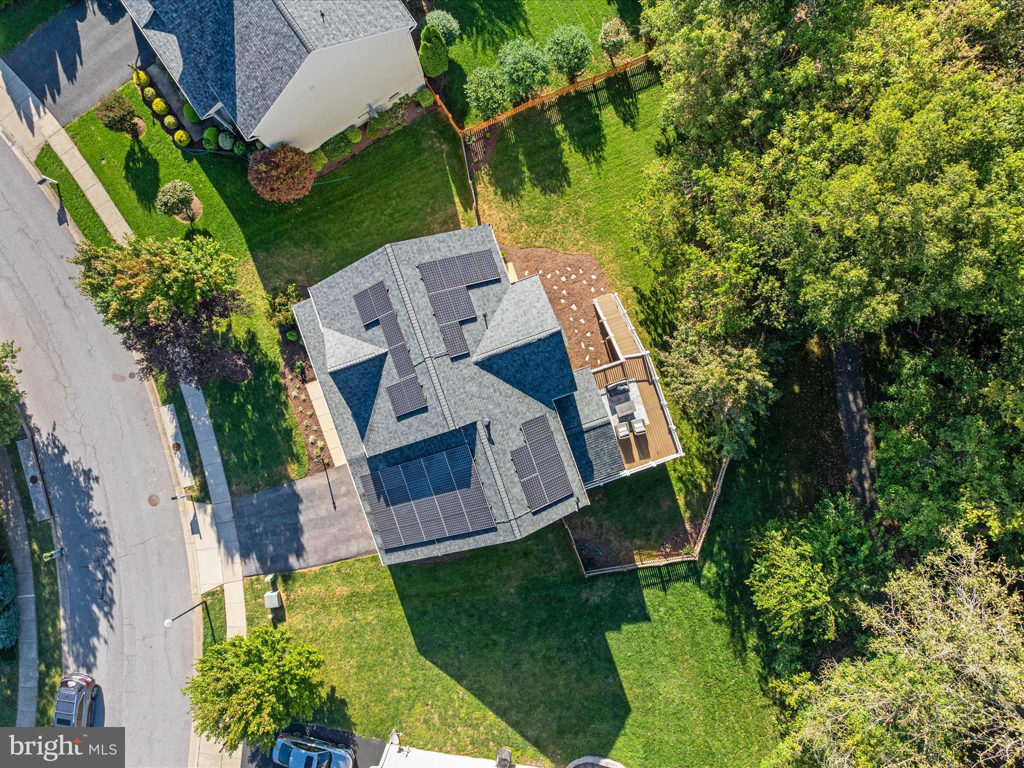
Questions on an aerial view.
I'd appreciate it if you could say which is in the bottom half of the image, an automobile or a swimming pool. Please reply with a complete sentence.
It is an automobile that can be seen in the bottom half of the image.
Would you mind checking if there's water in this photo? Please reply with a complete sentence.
No, there is no water in the image.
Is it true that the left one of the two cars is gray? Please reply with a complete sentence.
Yes, the left one of the two cars appears gray.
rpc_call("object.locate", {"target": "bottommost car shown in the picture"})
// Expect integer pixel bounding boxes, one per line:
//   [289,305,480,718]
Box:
[271,730,356,768]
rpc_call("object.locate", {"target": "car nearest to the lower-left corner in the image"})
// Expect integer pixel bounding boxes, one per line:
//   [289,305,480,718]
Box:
[52,670,101,753]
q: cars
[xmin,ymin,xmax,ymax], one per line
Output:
[271,730,356,768]
[52,670,101,753]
